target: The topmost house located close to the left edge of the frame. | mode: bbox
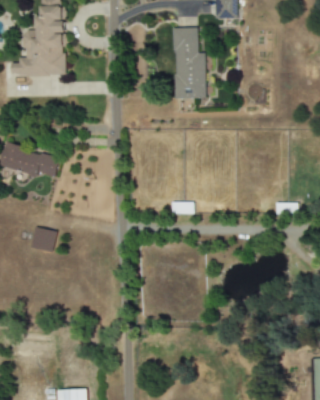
[12,0,66,75]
